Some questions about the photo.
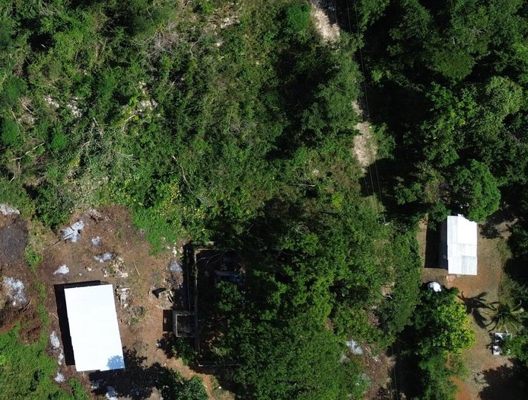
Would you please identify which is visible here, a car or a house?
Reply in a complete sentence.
This aerial view contains a house.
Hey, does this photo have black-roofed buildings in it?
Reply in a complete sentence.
No, no black-roofed building can be seen from above.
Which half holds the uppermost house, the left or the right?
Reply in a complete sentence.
The uppermost house sits on the right side.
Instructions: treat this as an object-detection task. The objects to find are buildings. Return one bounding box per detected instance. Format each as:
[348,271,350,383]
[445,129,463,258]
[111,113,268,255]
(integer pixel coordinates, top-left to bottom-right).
[65,282,125,371]
[439,215,478,275]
